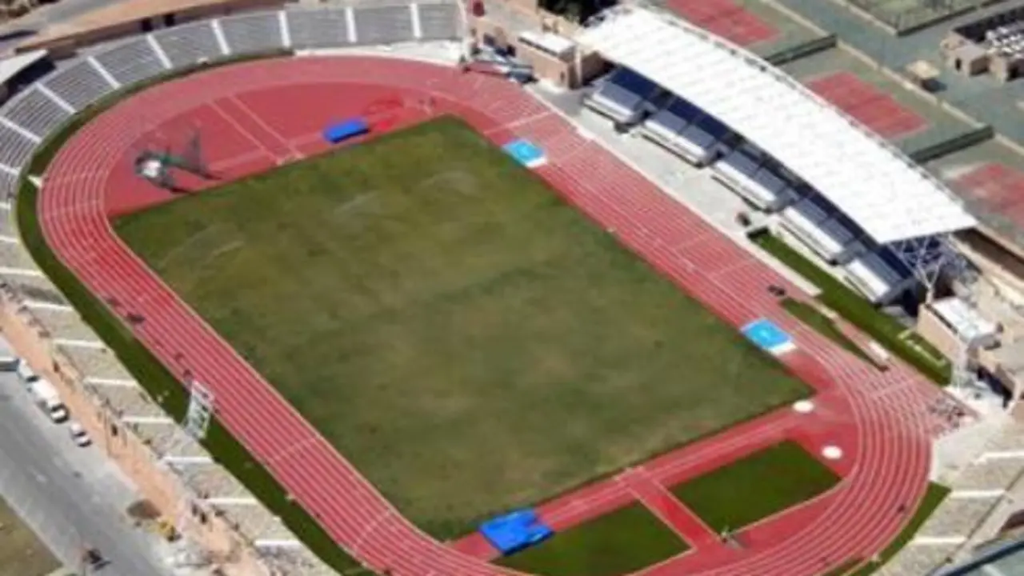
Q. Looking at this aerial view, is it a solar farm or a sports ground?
sports ground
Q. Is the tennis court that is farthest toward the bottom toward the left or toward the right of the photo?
right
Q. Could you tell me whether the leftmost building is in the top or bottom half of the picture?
top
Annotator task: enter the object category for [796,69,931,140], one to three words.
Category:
tennis court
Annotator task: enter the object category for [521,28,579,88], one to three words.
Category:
building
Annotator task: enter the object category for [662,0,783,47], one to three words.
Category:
tennis court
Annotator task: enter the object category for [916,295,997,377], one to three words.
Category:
building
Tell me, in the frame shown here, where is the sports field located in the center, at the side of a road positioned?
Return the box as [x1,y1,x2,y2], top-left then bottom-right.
[114,116,813,537]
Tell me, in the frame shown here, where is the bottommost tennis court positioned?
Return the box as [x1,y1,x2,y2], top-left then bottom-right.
[950,162,1024,228]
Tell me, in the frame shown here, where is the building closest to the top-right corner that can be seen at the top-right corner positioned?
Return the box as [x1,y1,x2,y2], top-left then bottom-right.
[941,28,1024,83]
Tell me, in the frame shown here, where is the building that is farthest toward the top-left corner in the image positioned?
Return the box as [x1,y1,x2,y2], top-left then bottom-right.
[0,45,48,99]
